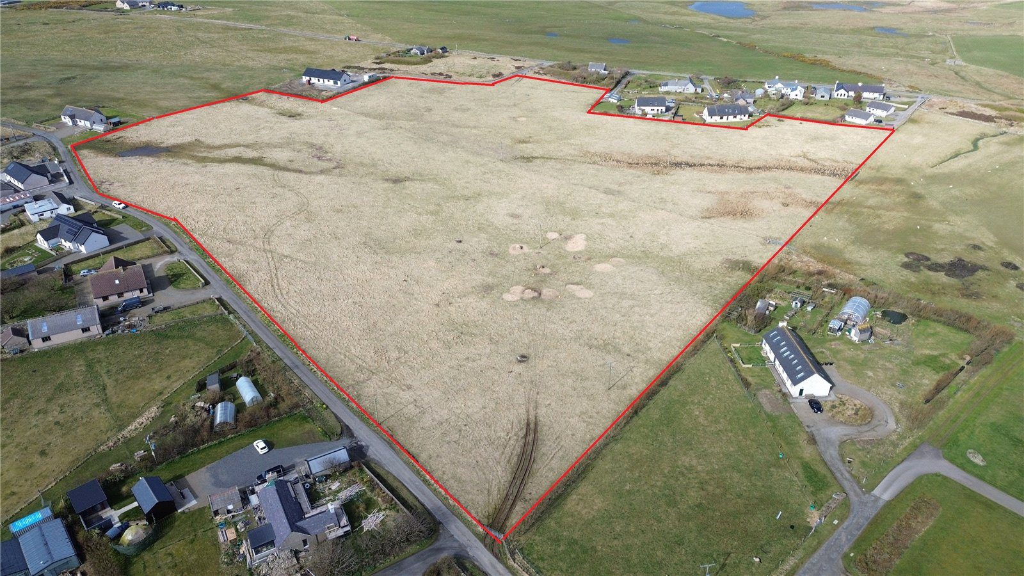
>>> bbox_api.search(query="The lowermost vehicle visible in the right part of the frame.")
[809,395,823,412]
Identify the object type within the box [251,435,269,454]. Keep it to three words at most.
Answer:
car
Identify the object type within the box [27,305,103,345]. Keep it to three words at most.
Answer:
shed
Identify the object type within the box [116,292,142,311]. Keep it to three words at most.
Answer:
vehicle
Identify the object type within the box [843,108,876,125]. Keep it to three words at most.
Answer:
house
